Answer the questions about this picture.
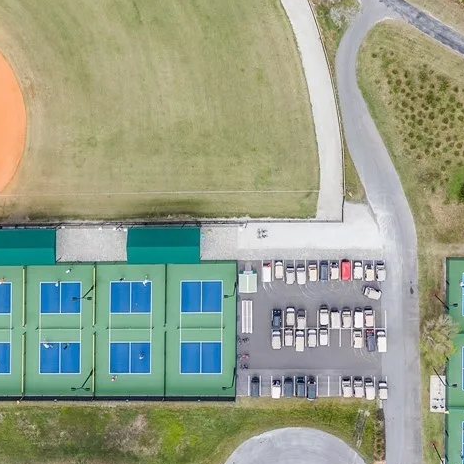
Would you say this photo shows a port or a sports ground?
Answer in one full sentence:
It's a sports ground.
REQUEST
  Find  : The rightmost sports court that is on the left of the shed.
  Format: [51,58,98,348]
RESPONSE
[166,266,236,397]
